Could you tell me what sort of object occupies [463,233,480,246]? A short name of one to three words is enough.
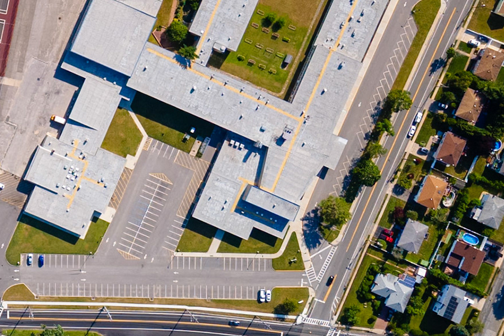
swimming pool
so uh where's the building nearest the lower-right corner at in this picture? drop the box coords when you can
[434,283,467,323]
